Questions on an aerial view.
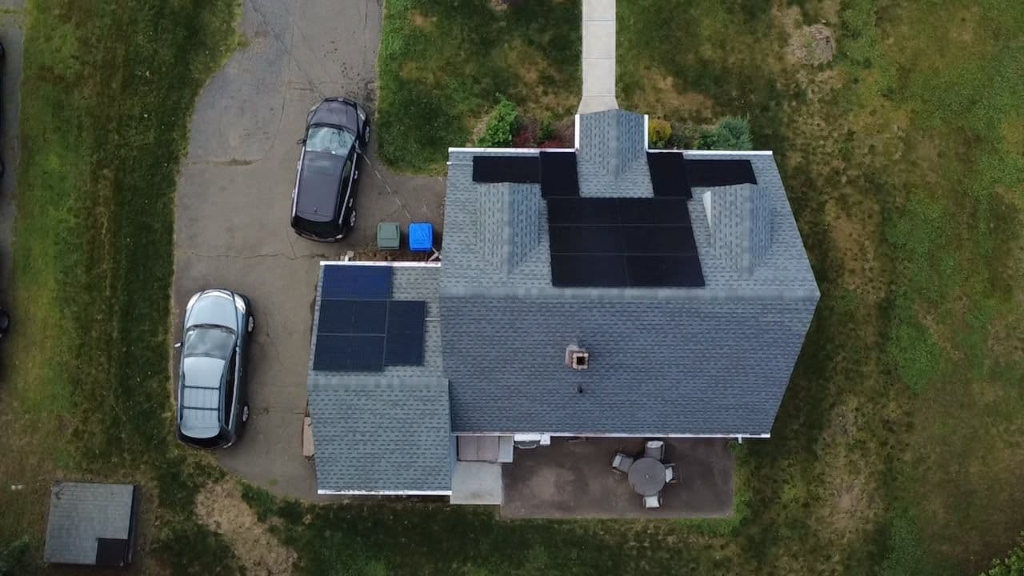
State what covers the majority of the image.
grass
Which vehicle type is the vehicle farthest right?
car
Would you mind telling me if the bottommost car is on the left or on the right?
left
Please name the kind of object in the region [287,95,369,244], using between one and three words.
car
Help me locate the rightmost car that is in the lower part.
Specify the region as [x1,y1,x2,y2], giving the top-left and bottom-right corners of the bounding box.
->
[172,289,255,452]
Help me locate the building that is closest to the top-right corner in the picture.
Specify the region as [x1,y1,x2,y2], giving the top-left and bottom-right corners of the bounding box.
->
[439,110,820,445]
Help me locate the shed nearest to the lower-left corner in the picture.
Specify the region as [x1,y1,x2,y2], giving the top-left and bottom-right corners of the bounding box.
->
[44,482,139,565]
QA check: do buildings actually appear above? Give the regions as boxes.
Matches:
[439,110,820,445]
[44,482,139,565]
